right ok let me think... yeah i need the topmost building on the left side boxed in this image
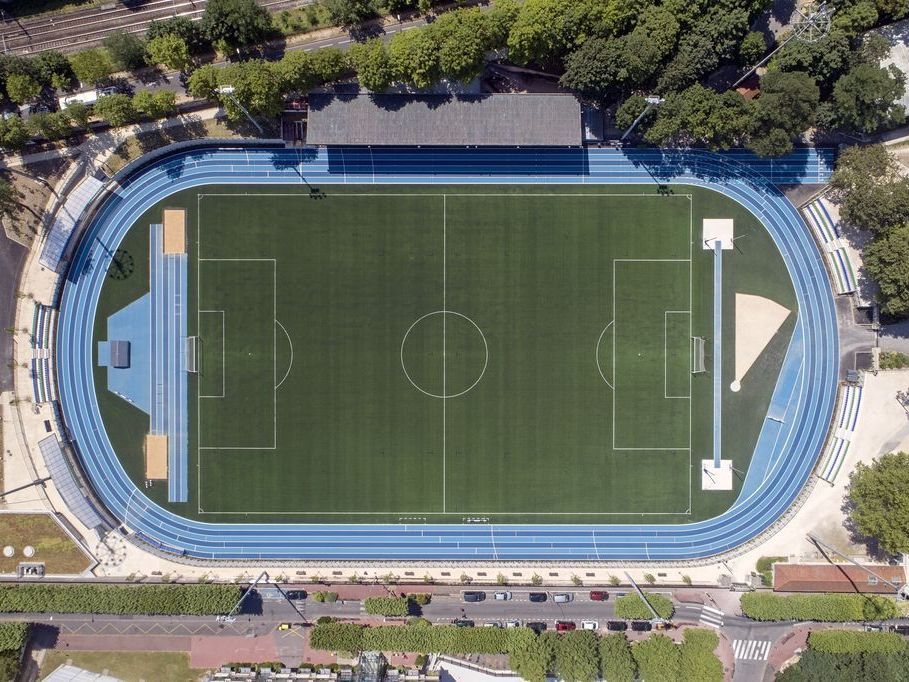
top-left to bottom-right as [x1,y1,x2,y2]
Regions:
[0,510,100,575]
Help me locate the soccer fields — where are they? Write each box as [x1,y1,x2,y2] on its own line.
[196,192,693,524]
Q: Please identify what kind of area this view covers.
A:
sports ground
